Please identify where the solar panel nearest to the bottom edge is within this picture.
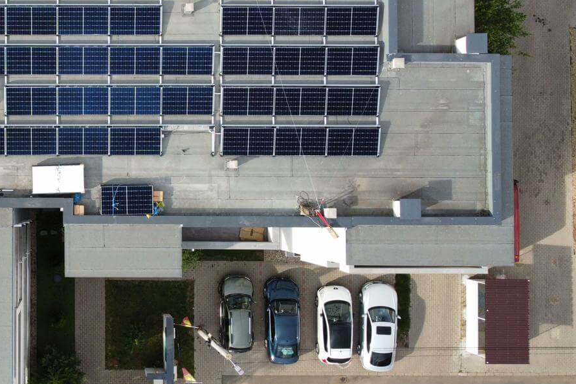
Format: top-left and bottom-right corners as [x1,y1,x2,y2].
[102,186,153,214]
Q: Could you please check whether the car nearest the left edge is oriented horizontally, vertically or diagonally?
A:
vertically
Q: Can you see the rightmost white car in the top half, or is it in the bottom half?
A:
bottom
